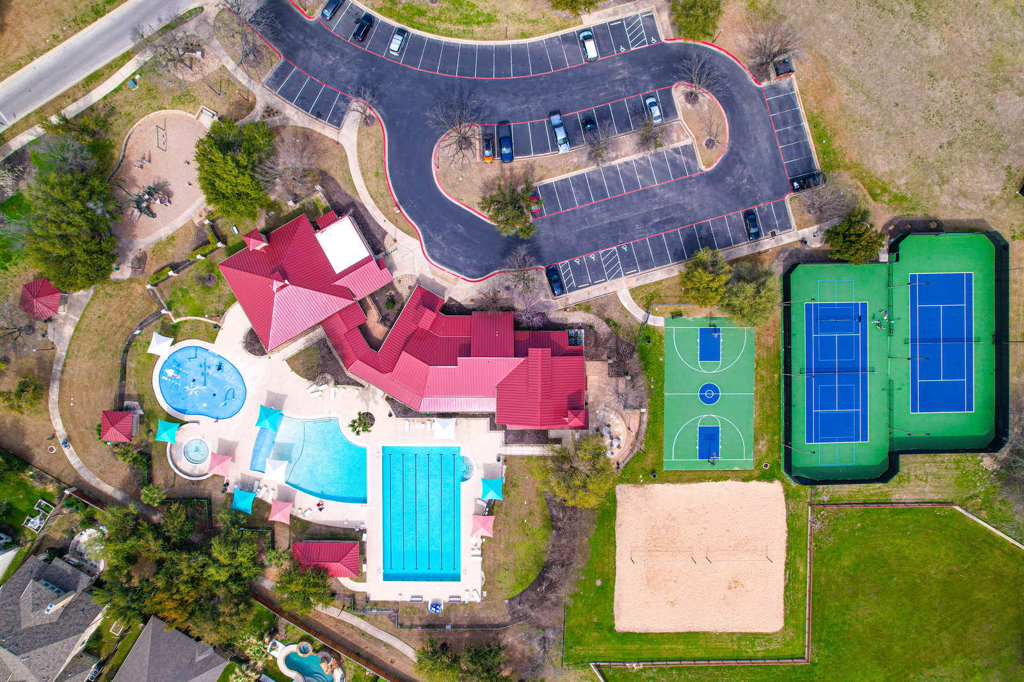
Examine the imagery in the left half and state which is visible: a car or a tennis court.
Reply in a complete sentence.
Looking in the left half, you will find a car.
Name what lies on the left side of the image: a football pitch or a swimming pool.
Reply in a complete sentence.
Looking on the left side of the image, you will find a swimming pool.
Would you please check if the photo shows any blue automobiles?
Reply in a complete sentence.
Yes, this view includes a blue automobile.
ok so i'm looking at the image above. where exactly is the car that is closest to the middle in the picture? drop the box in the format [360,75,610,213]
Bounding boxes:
[546,266,563,295]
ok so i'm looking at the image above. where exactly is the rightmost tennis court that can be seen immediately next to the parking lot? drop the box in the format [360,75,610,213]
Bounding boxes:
[889,234,995,452]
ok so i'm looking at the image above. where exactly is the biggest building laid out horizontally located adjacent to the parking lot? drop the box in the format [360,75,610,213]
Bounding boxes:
[320,284,589,430]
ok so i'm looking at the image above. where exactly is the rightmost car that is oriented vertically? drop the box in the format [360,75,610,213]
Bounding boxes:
[743,210,759,239]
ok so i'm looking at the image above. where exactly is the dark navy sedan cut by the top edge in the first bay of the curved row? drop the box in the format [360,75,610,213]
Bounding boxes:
[320,0,344,22]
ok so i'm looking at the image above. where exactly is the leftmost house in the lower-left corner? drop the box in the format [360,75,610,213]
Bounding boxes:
[0,555,108,682]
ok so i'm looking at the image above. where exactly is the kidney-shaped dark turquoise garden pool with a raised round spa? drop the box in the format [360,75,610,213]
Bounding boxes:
[277,641,346,682]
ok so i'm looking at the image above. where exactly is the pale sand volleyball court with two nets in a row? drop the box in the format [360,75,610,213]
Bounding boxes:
[613,479,787,634]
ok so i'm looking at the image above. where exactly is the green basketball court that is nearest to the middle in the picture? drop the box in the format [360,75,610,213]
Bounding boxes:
[664,317,755,470]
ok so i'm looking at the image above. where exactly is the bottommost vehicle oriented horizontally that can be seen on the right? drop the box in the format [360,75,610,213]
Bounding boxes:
[789,172,825,191]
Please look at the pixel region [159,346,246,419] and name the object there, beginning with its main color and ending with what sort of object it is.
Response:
blue swimming pool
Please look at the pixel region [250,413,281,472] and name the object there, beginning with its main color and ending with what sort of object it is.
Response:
blue swimming pool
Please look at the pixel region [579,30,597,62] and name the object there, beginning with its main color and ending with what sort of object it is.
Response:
white car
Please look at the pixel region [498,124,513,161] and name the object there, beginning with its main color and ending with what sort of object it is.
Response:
blue vehicle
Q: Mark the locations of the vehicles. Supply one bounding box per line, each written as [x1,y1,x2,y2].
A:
[546,266,563,295]
[352,12,374,42]
[579,30,597,62]
[482,136,495,160]
[390,28,407,59]
[498,124,513,161]
[583,117,597,142]
[645,96,661,125]
[743,210,759,239]
[320,0,344,22]
[550,113,569,151]
[789,172,825,191]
